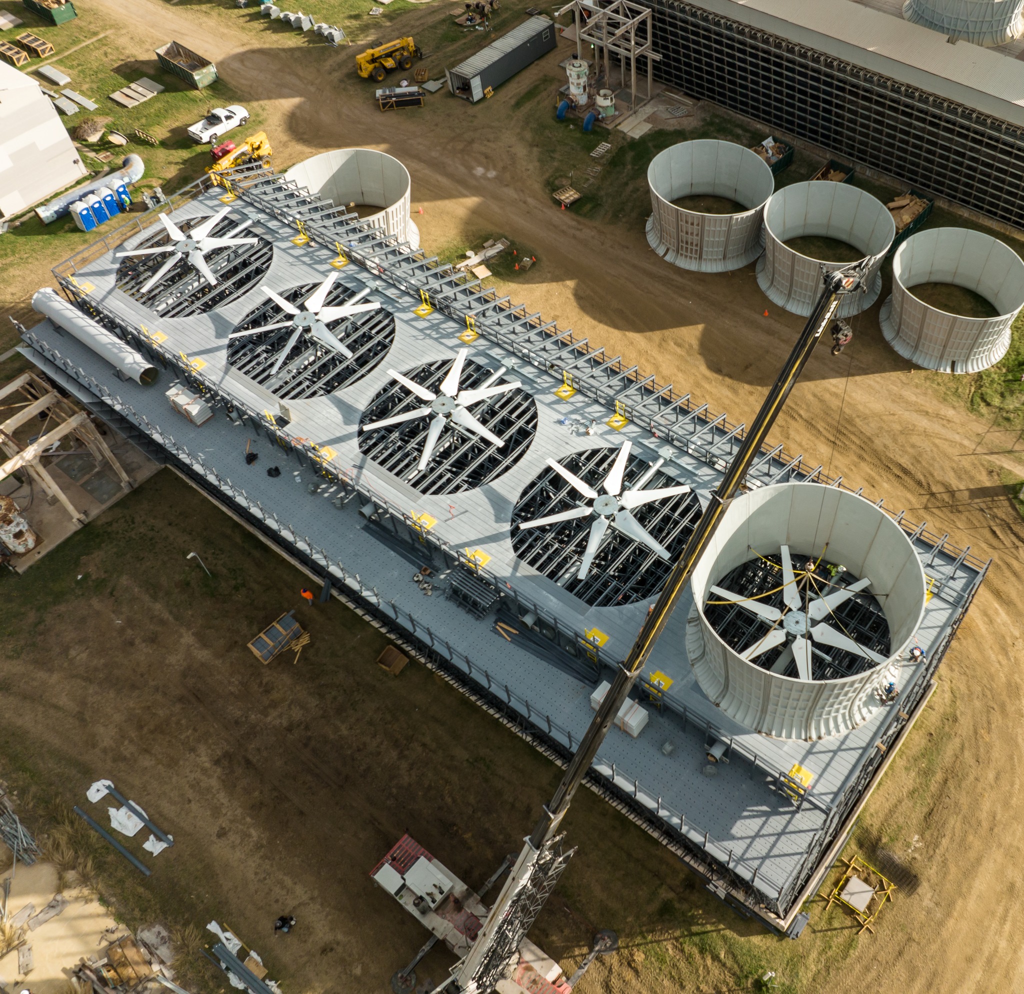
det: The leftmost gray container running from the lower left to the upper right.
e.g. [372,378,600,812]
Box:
[444,14,557,102]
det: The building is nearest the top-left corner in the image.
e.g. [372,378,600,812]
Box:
[0,56,88,219]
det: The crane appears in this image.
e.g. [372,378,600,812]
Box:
[362,258,871,994]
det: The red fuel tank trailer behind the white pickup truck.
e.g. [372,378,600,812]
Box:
[203,132,239,164]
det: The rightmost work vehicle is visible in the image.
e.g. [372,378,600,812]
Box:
[345,38,425,83]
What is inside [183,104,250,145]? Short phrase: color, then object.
white truck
